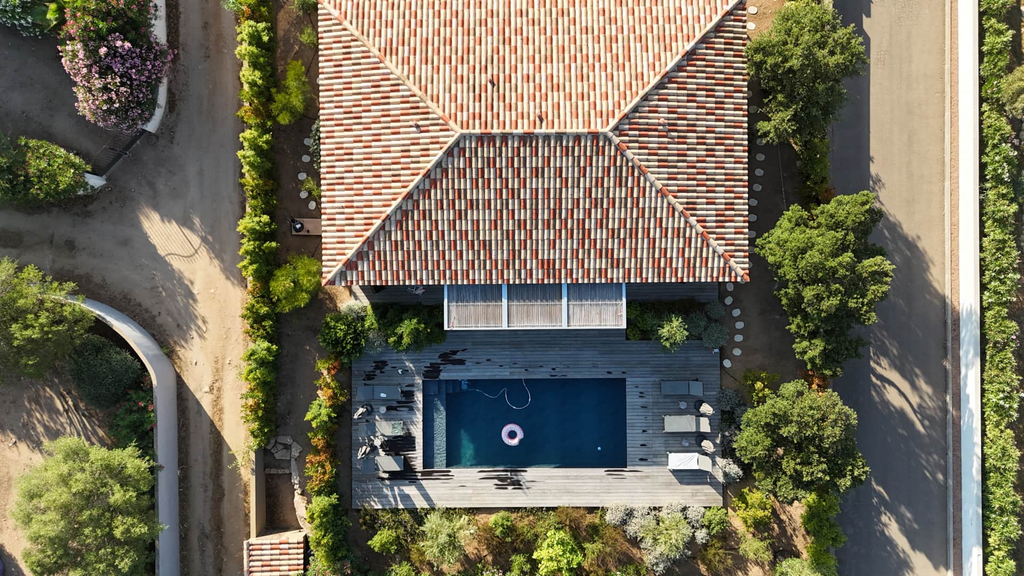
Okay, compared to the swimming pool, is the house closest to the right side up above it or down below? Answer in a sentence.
Relative to the swimming pool, the house closest to the right side lies above it.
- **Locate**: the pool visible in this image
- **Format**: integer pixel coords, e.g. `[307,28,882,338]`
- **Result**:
[423,379,626,468]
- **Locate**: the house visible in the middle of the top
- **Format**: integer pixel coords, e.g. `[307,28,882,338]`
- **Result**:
[319,0,752,285]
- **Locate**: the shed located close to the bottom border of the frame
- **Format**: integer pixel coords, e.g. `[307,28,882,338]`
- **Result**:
[241,524,318,576]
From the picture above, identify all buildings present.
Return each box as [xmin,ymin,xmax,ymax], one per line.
[241,524,318,576]
[319,0,752,285]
